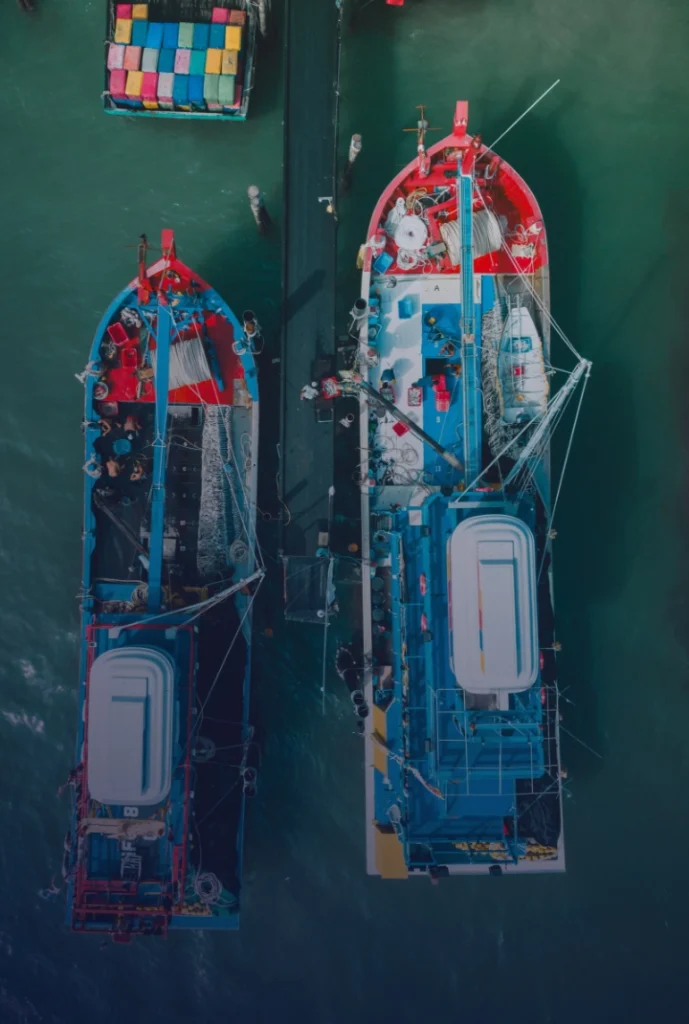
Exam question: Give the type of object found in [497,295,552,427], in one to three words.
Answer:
boat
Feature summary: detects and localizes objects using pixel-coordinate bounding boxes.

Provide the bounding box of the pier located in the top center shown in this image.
[280,0,345,552]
